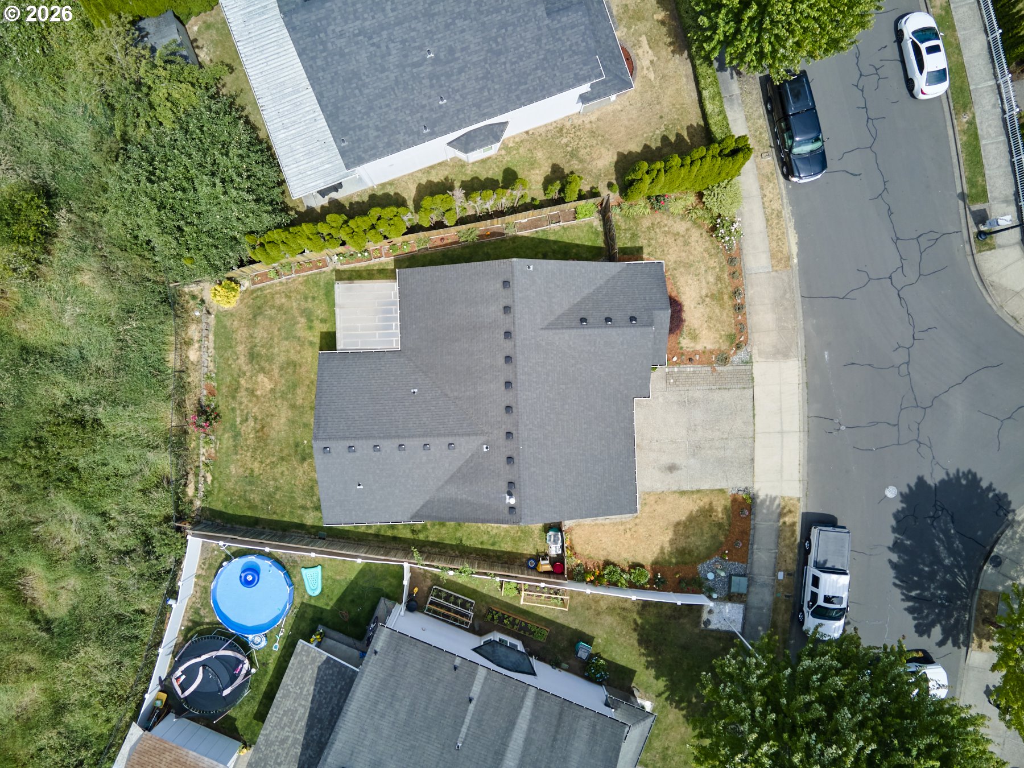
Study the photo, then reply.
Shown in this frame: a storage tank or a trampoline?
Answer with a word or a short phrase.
trampoline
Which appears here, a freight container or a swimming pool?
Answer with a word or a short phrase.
swimming pool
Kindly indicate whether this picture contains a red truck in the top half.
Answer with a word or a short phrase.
No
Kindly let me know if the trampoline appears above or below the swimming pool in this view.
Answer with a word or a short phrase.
below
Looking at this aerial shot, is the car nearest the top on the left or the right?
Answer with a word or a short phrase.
right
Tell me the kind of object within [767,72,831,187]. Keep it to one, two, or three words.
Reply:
truck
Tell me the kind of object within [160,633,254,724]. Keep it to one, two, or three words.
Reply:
trampoline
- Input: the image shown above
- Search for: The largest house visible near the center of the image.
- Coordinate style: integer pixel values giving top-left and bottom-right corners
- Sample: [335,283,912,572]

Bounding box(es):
[313,259,671,526]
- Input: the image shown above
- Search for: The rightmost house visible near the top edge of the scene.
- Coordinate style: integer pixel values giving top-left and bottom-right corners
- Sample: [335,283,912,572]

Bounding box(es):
[279,0,635,193]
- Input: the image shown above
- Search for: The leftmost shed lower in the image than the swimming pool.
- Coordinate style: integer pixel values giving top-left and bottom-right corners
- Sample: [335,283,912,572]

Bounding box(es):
[111,713,241,768]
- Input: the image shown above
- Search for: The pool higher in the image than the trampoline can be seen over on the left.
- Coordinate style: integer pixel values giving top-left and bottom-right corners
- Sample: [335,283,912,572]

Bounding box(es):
[204,548,296,638]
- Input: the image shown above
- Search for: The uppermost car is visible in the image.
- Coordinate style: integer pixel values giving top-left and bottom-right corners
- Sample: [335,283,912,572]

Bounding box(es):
[894,13,948,102]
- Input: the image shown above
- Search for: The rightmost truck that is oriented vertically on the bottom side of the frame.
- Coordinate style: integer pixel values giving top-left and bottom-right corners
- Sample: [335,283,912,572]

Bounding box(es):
[795,516,848,636]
